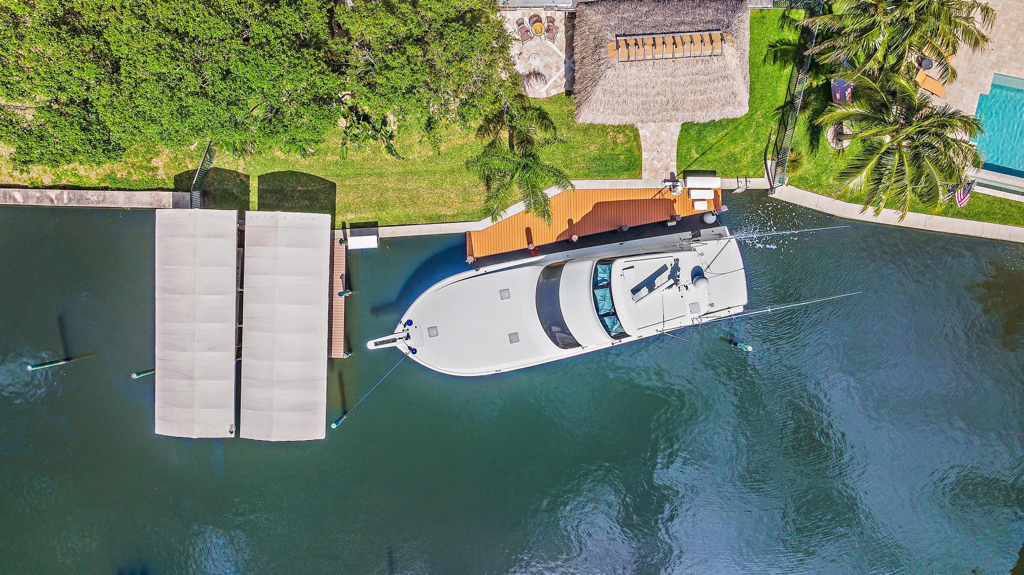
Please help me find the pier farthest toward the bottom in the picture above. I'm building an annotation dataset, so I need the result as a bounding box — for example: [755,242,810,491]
[328,238,347,357]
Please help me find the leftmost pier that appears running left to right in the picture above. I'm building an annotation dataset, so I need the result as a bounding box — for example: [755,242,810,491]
[467,190,722,258]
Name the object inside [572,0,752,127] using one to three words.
shed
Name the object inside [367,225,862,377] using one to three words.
boat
